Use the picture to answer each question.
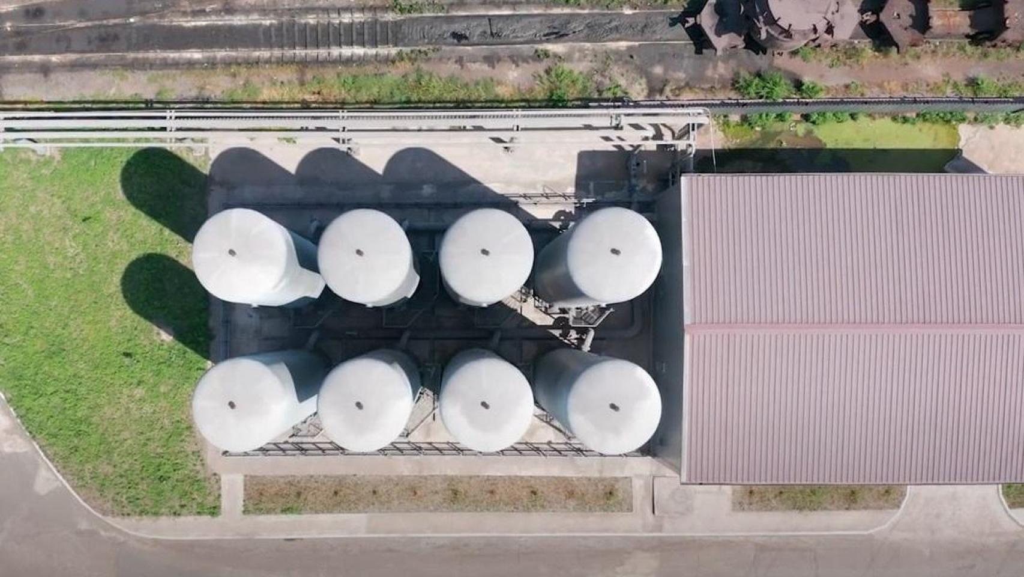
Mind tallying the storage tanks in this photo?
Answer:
8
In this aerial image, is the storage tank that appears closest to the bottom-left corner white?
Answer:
Yes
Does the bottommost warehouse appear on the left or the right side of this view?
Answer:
right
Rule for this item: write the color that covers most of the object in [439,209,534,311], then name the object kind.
white storage tank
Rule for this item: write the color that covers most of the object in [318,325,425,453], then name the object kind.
white storage tank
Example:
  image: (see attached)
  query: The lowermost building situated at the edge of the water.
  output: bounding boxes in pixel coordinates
[653,174,1024,484]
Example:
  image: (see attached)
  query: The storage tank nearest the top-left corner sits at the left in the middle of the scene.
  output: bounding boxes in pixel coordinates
[192,209,333,311]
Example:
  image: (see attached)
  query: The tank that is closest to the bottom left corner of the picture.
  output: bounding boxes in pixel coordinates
[192,325,334,453]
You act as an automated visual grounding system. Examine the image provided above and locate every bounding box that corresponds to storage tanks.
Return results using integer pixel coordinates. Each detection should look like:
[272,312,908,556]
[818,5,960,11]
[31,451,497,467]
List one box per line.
[318,209,425,311]
[318,325,425,453]
[439,209,534,311]
[529,209,662,311]
[192,325,334,453]
[529,325,662,453]
[192,209,333,311]
[439,325,534,453]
